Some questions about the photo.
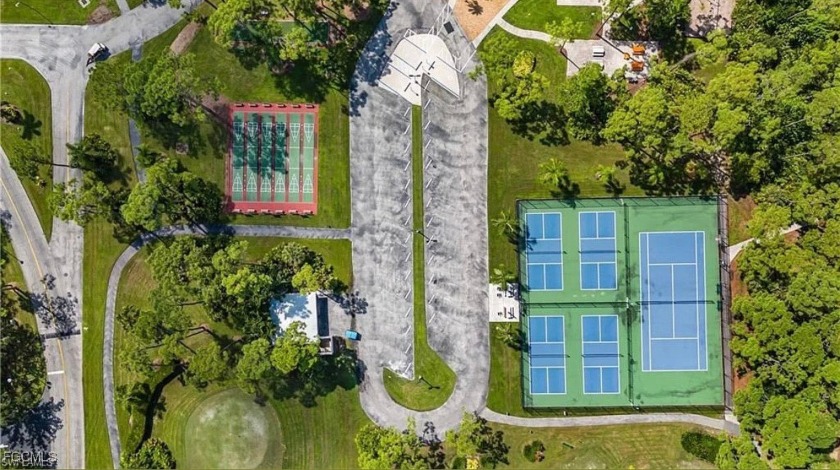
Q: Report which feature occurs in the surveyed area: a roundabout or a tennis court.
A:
tennis court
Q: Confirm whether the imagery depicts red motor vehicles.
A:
No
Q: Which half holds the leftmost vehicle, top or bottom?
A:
top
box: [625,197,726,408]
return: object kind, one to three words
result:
tennis court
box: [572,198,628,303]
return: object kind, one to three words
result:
sports court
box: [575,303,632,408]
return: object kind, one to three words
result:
sports court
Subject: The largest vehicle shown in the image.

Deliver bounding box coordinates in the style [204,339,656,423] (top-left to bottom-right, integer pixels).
[84,39,111,64]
